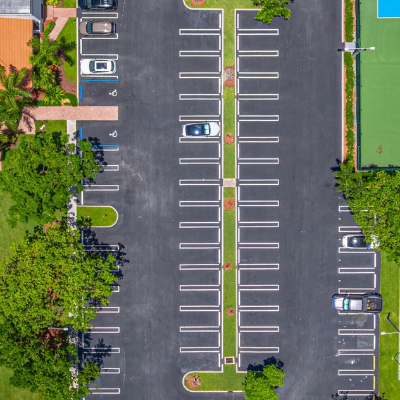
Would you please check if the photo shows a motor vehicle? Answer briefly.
Yes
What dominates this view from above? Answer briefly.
paved ground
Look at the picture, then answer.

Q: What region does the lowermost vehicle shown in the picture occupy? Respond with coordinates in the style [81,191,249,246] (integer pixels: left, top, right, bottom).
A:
[334,294,382,313]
